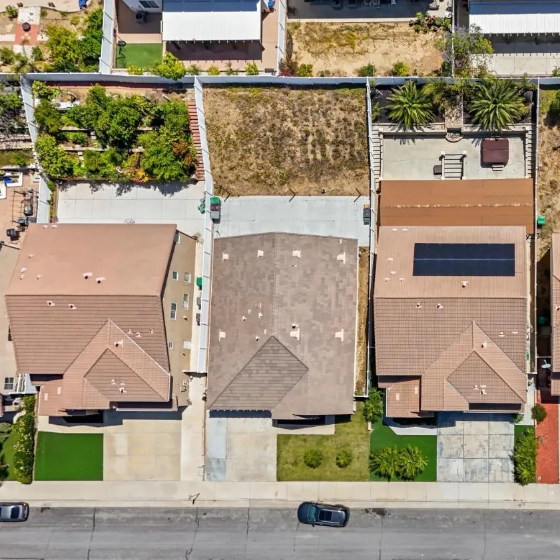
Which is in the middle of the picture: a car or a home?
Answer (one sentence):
The one visible in the middle of the picture is a home.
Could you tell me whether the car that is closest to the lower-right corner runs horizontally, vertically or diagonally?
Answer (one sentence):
Seen from above, the car that is closest to the lower-right corner lies horizontally.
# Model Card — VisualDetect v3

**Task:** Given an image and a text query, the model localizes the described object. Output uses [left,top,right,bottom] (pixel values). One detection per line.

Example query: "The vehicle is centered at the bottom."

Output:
[297,501,351,528]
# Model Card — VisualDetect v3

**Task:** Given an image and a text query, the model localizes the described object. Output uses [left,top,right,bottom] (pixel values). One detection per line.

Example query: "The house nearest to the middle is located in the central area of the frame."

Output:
[204,234,358,419]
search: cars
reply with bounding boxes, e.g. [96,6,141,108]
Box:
[0,500,34,521]
[297,501,351,528]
